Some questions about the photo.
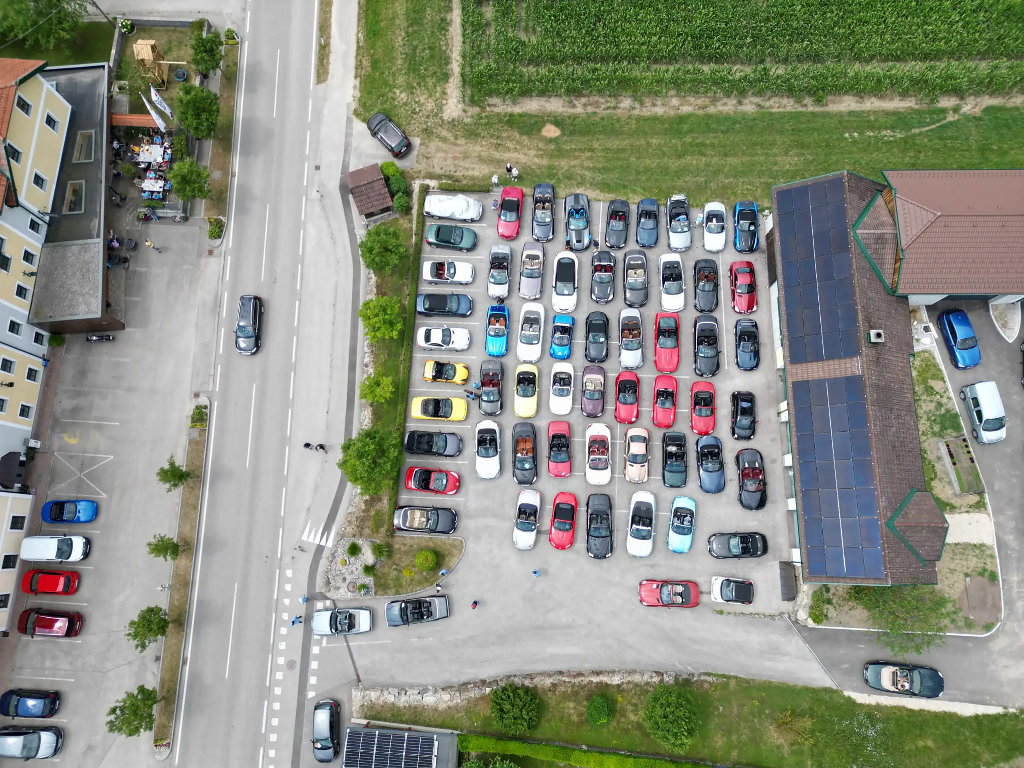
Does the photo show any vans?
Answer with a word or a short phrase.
Yes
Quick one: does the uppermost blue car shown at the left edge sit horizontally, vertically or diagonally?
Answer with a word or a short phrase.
horizontally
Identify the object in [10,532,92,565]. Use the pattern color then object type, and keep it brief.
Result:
white van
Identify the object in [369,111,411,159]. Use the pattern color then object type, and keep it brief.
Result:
gray car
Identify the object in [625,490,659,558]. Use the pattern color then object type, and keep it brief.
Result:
white car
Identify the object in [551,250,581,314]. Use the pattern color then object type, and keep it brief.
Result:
white car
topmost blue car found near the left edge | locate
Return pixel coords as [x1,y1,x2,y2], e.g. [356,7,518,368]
[40,496,100,526]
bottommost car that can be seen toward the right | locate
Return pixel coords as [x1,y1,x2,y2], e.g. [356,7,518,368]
[863,661,944,701]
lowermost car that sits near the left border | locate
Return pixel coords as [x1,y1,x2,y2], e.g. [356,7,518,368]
[0,726,65,765]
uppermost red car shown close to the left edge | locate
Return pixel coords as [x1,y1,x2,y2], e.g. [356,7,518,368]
[21,570,81,602]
